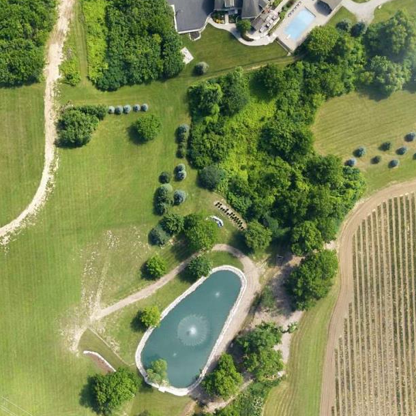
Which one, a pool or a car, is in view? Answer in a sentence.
Visible in the photo is a pool.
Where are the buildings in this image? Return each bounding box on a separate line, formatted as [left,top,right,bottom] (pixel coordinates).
[212,0,274,22]
[318,0,342,13]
